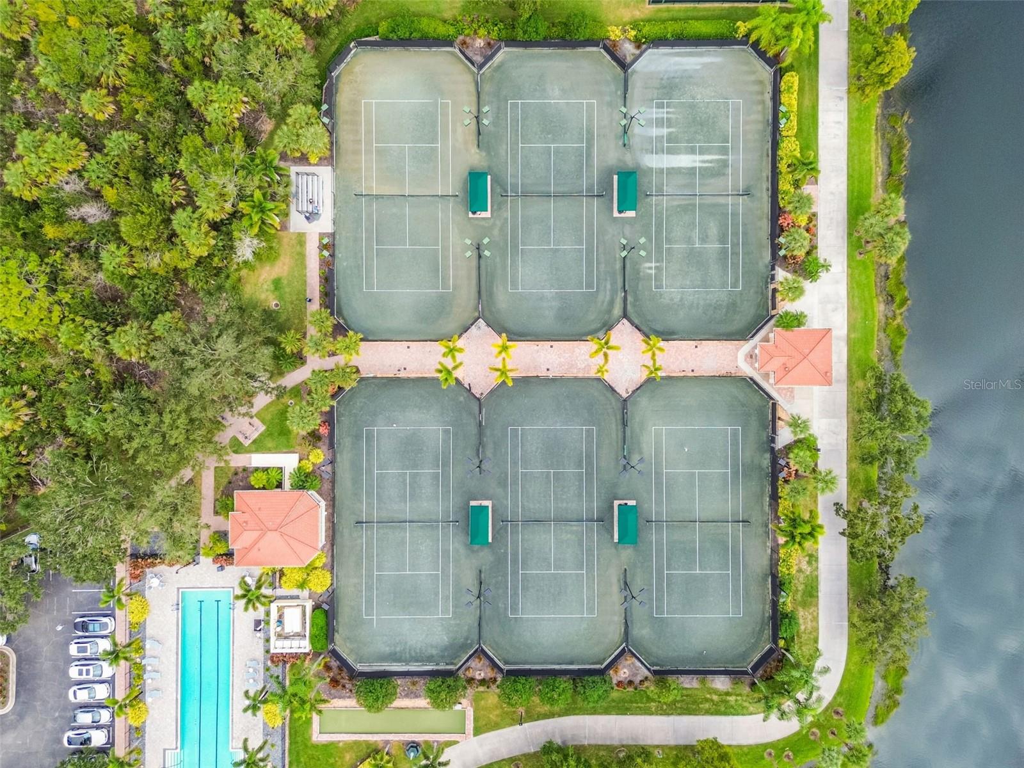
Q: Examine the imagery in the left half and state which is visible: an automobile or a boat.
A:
automobile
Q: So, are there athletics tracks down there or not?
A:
No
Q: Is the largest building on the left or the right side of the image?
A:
left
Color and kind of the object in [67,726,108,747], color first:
white car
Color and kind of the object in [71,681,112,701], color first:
white car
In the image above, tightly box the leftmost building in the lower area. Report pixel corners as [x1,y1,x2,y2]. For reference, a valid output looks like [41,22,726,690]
[228,490,326,567]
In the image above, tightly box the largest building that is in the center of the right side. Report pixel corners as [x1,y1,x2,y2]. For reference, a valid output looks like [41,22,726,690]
[756,328,833,386]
